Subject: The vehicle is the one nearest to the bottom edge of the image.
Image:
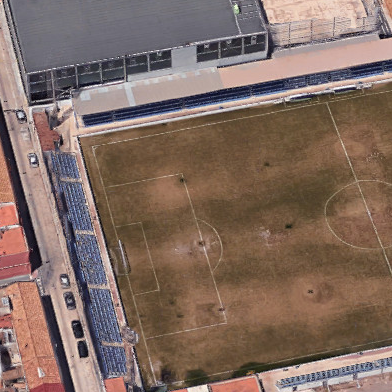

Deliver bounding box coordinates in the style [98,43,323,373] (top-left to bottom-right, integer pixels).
[76,340,90,359]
